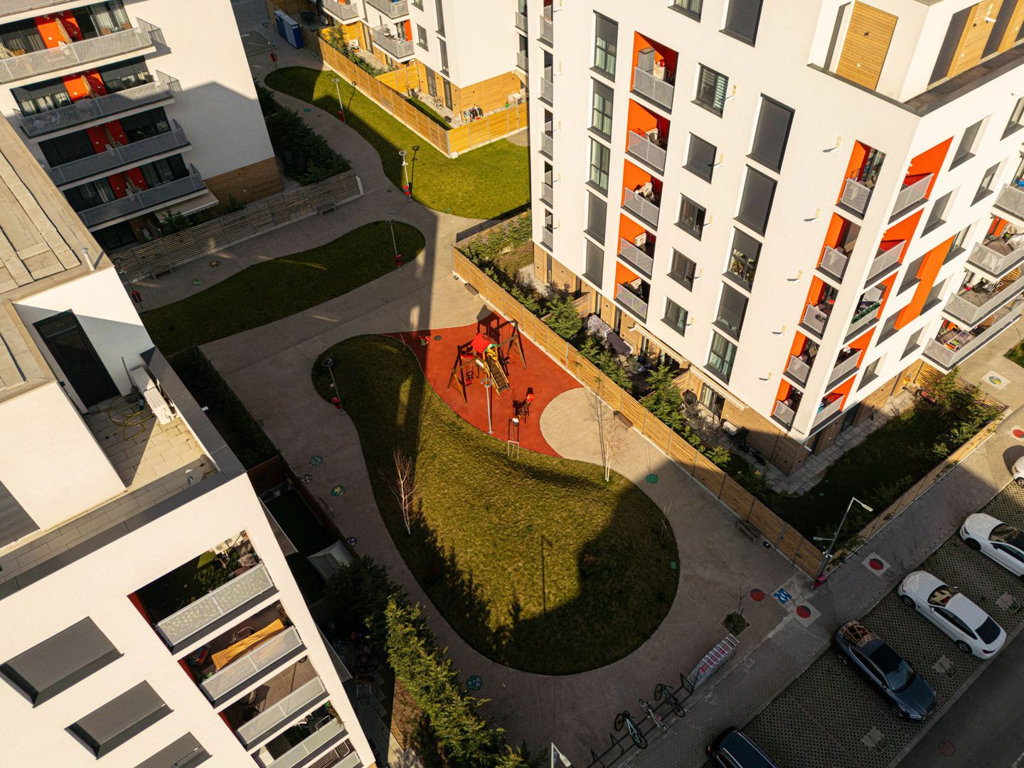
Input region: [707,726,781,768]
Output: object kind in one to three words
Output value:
car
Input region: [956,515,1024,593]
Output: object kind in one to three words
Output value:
car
